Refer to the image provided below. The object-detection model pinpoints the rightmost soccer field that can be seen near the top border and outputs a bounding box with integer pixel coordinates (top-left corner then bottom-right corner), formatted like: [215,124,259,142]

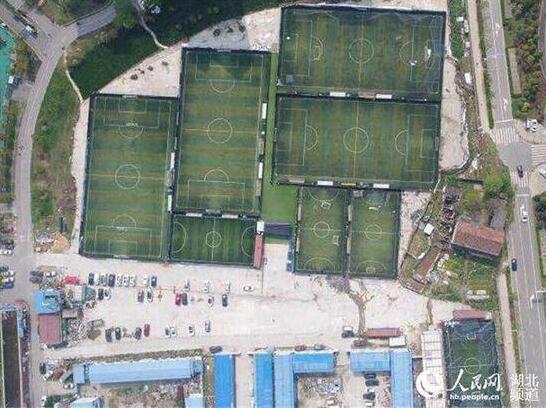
[277,11,442,101]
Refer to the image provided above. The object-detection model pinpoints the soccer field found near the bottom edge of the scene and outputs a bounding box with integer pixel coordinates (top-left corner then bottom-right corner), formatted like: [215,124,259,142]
[439,316,503,410]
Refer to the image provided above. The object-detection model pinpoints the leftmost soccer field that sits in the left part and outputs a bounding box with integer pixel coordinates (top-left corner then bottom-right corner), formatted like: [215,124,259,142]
[84,98,180,261]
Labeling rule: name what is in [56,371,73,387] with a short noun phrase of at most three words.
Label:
vehicle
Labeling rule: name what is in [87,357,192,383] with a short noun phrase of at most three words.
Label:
building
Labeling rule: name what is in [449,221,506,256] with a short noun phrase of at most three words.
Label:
house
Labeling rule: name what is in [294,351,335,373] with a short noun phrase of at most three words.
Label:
building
